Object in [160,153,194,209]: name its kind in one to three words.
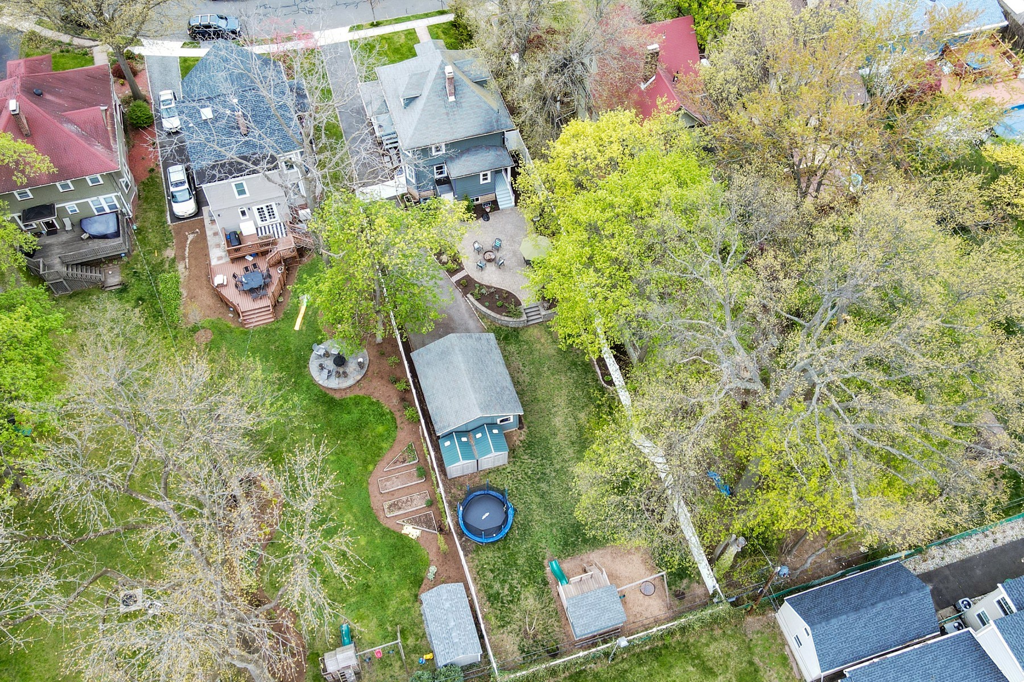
car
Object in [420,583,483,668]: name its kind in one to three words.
shed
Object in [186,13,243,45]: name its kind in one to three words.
car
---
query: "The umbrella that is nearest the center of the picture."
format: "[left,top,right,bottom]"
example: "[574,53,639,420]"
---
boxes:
[519,236,553,269]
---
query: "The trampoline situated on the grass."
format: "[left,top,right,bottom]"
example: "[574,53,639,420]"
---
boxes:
[457,481,515,554]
